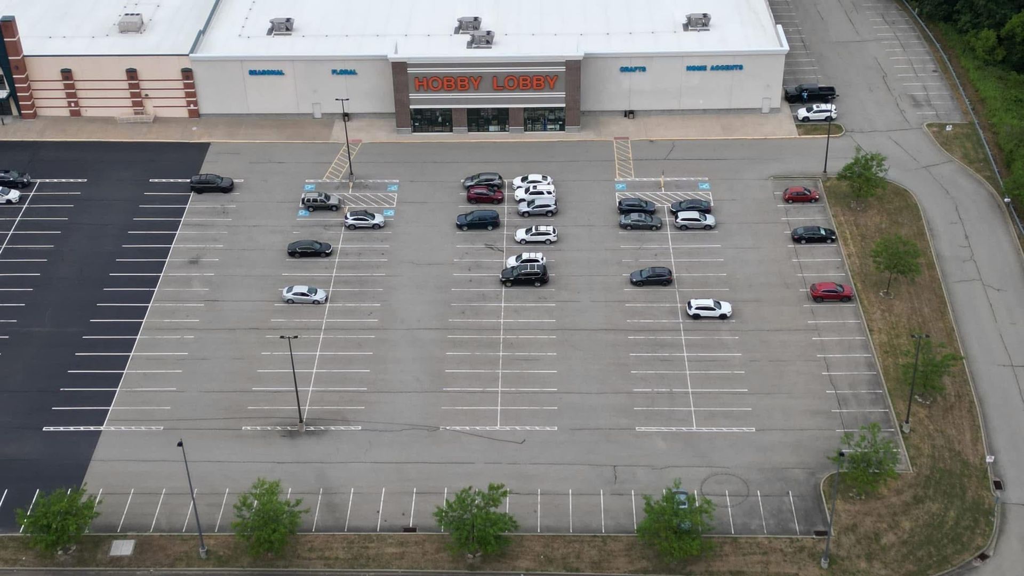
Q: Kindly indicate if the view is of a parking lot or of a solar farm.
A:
parking lot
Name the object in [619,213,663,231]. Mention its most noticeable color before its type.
gray car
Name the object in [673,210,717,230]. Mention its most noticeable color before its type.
white car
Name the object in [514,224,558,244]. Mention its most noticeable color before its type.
white car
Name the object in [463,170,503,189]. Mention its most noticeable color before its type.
gray car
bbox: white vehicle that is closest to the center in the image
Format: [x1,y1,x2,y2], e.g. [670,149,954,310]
[505,249,546,269]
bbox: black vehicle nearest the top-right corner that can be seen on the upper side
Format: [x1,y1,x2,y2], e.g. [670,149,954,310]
[783,84,835,103]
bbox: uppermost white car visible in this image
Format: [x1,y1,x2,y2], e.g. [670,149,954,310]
[796,103,837,122]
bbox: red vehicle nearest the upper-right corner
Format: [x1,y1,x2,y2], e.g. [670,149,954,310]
[782,186,820,203]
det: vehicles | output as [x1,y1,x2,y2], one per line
[796,103,837,122]
[190,173,235,194]
[673,210,717,230]
[0,168,32,188]
[667,197,711,214]
[343,211,386,230]
[685,297,732,319]
[792,226,837,244]
[619,213,663,231]
[616,195,657,215]
[512,173,552,187]
[499,263,547,287]
[518,198,558,217]
[782,186,820,203]
[455,210,500,231]
[281,285,327,304]
[463,170,503,189]
[514,224,558,244]
[301,191,342,212]
[466,185,503,204]
[505,249,546,269]
[783,84,835,103]
[514,181,556,202]
[0,187,20,203]
[287,240,333,258]
[807,282,854,303]
[631,266,674,287]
